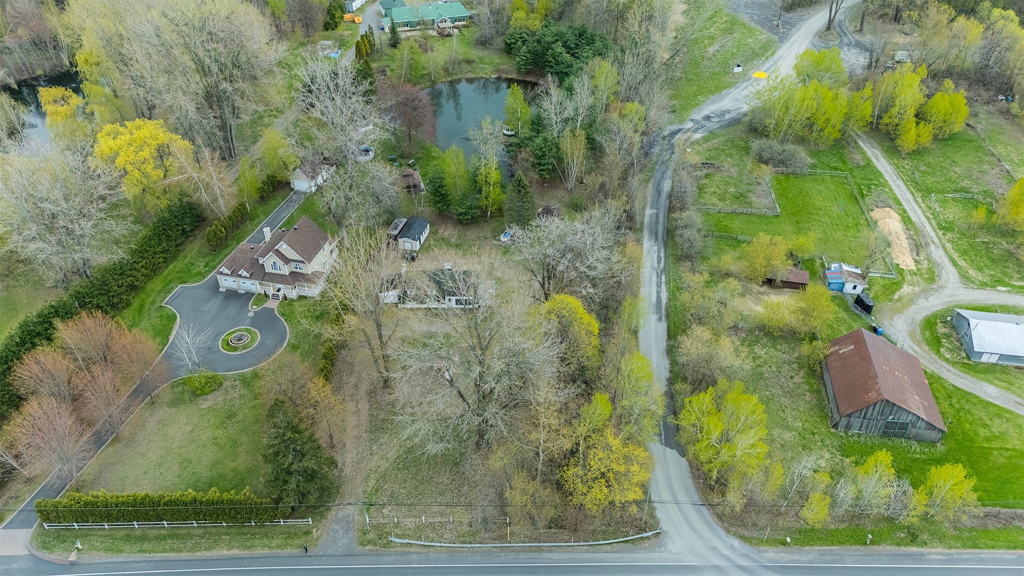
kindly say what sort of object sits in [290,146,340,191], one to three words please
building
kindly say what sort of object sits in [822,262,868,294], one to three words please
shed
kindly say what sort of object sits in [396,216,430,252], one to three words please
shed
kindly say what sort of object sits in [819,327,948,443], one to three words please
barn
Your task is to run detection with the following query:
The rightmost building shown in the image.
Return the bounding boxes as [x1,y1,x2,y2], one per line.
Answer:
[949,302,1024,365]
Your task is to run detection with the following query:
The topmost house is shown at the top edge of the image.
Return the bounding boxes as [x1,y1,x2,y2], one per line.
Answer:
[377,0,470,32]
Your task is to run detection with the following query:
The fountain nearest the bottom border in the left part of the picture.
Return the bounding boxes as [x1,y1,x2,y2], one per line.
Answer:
[227,329,251,347]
